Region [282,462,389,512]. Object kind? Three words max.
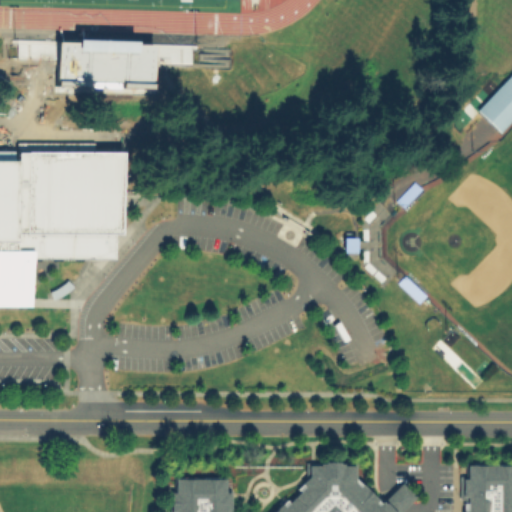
building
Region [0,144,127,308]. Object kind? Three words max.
building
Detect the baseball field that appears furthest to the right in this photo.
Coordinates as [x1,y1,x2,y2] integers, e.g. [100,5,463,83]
[400,173,512,308]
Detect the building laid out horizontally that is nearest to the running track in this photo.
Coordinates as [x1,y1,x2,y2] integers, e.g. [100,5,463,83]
[11,40,197,95]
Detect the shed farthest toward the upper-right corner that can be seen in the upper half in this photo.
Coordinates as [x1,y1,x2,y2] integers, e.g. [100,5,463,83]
[478,72,512,134]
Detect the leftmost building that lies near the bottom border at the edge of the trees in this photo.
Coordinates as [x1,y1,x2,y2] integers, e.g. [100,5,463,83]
[173,479,234,512]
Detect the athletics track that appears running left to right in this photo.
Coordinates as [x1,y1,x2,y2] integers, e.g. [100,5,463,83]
[0,0,317,35]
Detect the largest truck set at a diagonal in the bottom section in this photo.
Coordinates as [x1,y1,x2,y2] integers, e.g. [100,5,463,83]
[329,314,354,344]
